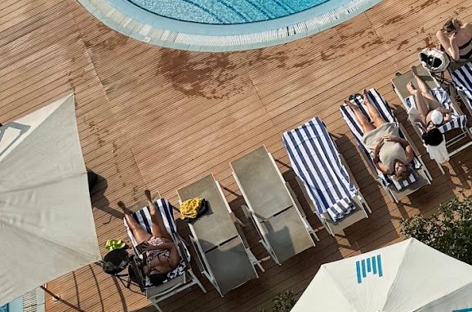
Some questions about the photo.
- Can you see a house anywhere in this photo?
No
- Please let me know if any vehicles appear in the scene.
No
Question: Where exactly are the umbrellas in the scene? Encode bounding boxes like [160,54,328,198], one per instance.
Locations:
[292,238,472,312]
[0,95,99,301]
